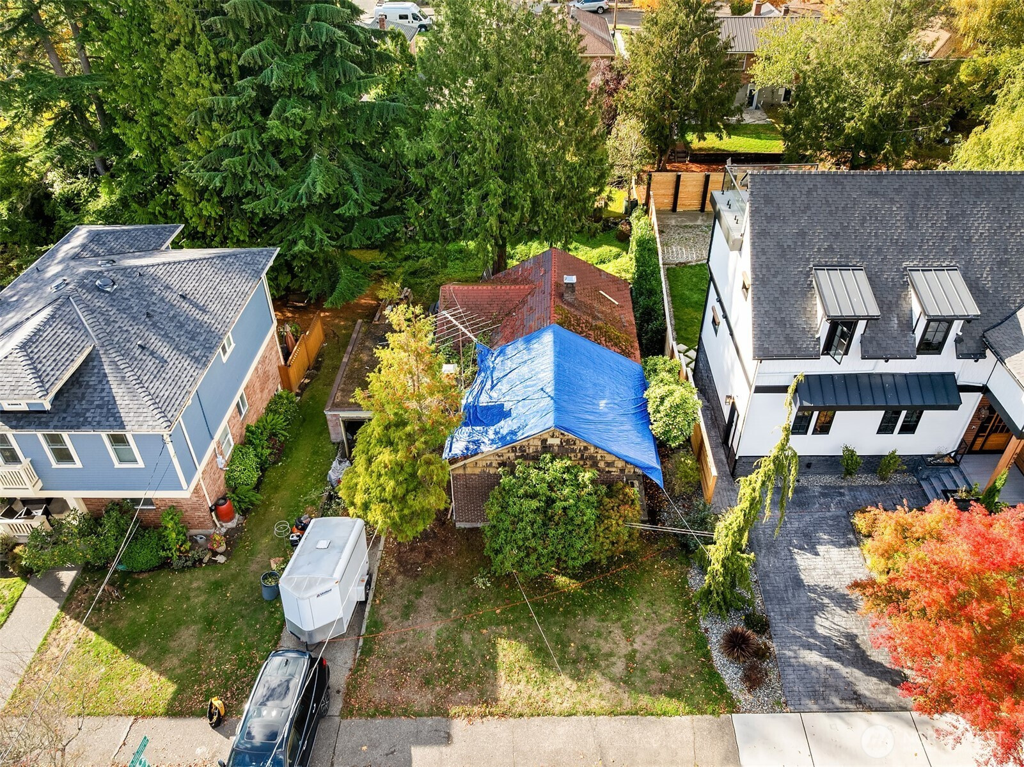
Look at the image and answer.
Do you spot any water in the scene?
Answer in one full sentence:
No, there's no water in this view.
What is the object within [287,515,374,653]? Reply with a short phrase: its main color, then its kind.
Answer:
white trailer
